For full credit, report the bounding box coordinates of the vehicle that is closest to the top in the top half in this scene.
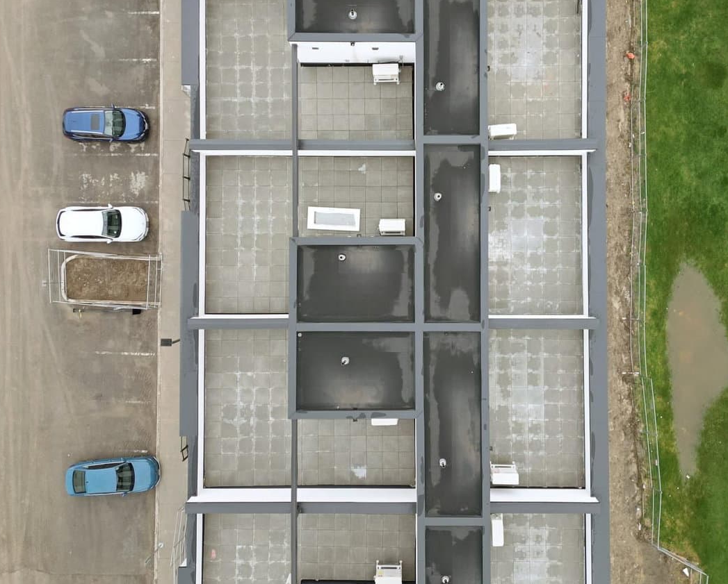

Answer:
[61,104,153,147]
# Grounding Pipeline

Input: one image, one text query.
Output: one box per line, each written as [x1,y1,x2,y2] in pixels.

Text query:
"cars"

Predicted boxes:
[53,203,152,247]
[66,453,165,498]
[61,104,153,147]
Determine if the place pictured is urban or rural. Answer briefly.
urban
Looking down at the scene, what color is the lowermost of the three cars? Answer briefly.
blue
